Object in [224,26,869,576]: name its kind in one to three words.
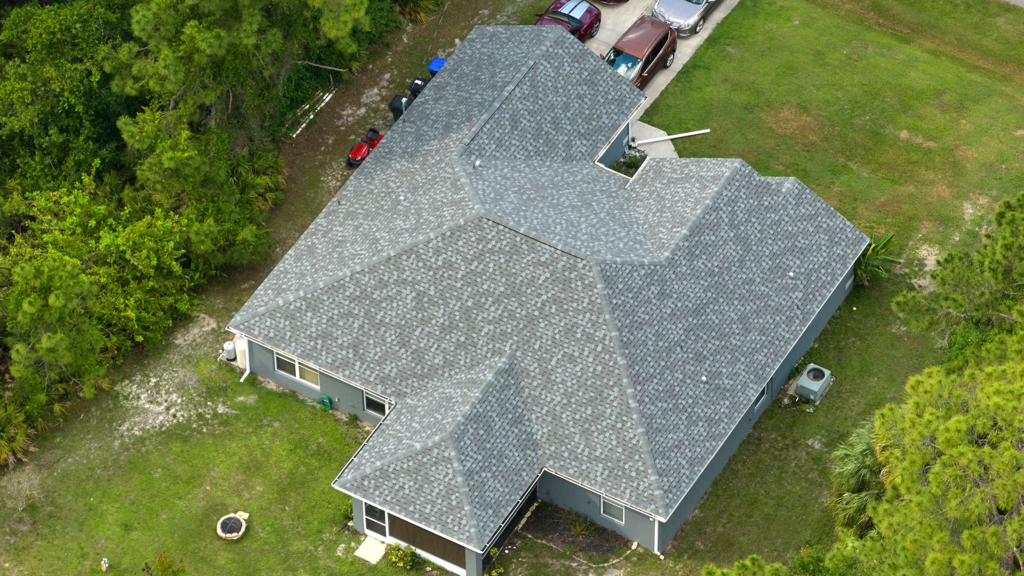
house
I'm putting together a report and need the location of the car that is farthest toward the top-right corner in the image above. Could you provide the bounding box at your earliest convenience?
[648,0,716,34]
